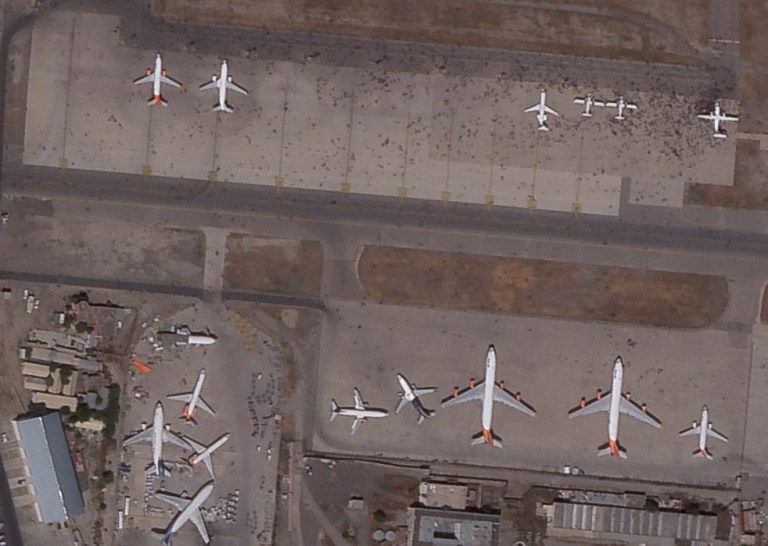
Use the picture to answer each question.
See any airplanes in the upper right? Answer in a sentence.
Yes, an airplane shows up in the upper right.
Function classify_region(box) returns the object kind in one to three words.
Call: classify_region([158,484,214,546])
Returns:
airplane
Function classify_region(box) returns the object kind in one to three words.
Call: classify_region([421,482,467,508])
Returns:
building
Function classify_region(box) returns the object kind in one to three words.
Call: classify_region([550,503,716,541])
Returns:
building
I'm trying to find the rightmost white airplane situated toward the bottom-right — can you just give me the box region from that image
[680,406,728,458]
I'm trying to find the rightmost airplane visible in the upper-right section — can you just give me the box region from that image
[698,103,737,136]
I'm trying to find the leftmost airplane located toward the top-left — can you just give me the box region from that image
[134,54,182,105]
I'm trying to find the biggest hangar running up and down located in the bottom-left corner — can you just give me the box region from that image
[14,411,85,523]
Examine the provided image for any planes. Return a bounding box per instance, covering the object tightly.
[442,346,537,448]
[606,98,636,119]
[134,54,182,105]
[158,484,214,546]
[524,89,559,130]
[569,356,664,457]
[185,433,230,478]
[334,389,389,436]
[698,103,737,136]
[574,94,604,116]
[167,370,217,430]
[680,406,728,458]
[157,328,217,344]
[124,401,194,475]
[399,374,438,424]
[200,60,247,112]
